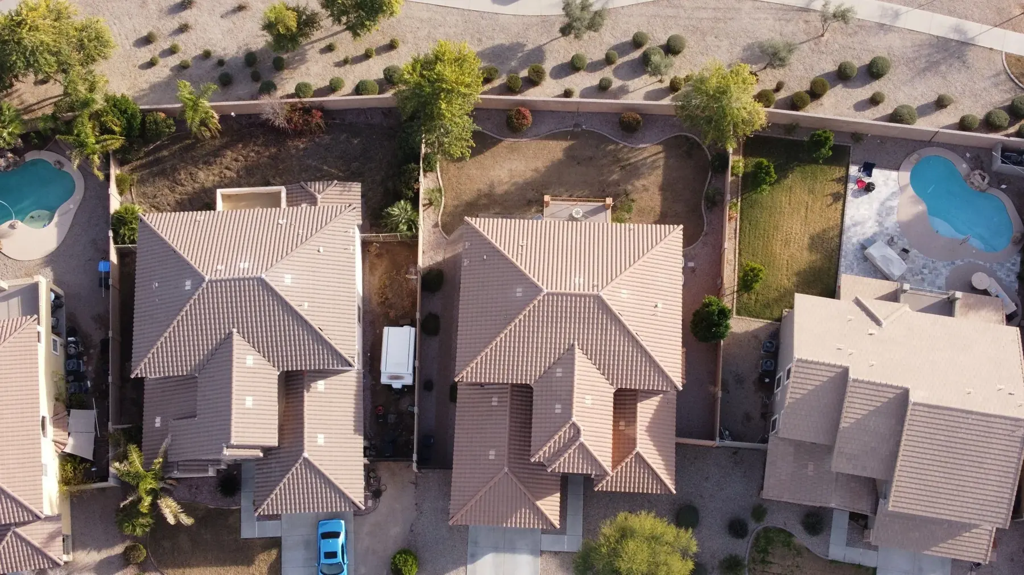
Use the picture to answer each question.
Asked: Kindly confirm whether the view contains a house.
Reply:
Yes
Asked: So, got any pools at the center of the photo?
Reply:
No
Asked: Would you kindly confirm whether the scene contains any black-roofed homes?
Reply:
No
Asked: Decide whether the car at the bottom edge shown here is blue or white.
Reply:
blue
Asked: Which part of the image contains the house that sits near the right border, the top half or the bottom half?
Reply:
bottom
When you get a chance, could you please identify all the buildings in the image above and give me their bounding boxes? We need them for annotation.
[448,197,687,530]
[0,276,85,571]
[129,177,365,515]
[759,274,1024,563]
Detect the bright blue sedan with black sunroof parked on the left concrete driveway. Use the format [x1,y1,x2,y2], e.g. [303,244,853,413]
[313,516,348,575]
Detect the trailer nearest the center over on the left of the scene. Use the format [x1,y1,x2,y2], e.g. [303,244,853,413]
[381,328,414,401]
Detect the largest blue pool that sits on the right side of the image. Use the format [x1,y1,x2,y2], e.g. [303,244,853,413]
[910,154,1014,253]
